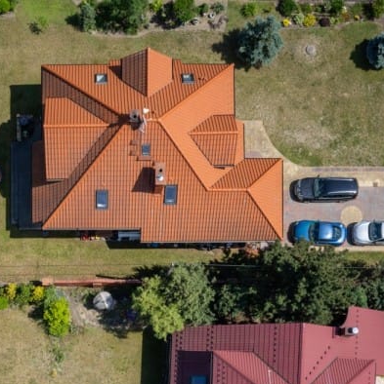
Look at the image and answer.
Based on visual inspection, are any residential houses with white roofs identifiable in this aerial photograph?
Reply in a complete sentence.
No, there isn't any residential house with a white roof down there.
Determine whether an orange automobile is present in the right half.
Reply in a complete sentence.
No, no orange automobile can be made out in the right half.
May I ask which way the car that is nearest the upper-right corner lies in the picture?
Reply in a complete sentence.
The car that is nearest the upper-right corner is oriented horizontally.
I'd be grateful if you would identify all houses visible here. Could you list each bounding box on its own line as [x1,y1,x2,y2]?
[170,307,384,384]
[32,47,285,243]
